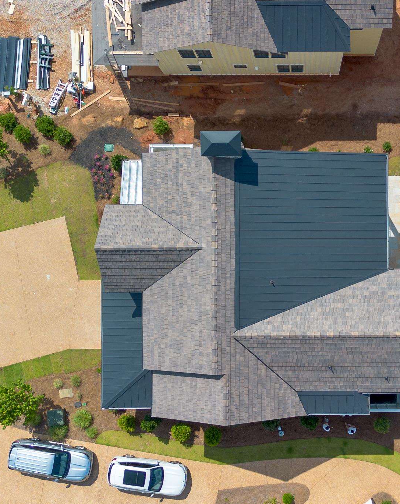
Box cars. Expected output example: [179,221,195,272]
[8,437,98,485]
[107,454,190,501]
